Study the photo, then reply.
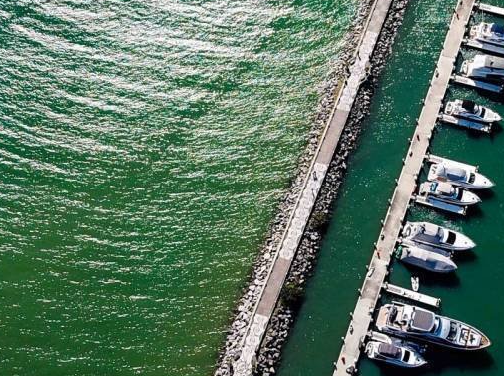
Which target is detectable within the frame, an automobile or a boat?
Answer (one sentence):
There is a boat in the scene.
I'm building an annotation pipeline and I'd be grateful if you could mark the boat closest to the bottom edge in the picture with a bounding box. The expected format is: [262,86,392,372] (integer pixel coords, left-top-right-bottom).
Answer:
[366,340,428,368]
